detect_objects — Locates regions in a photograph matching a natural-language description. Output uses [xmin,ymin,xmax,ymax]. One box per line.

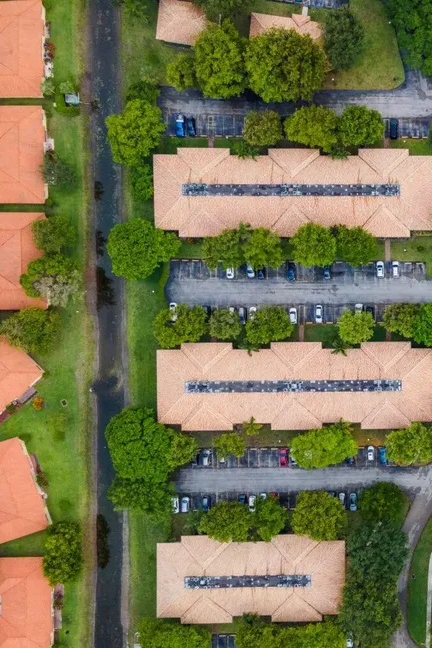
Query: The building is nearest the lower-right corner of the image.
[156,534,347,624]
